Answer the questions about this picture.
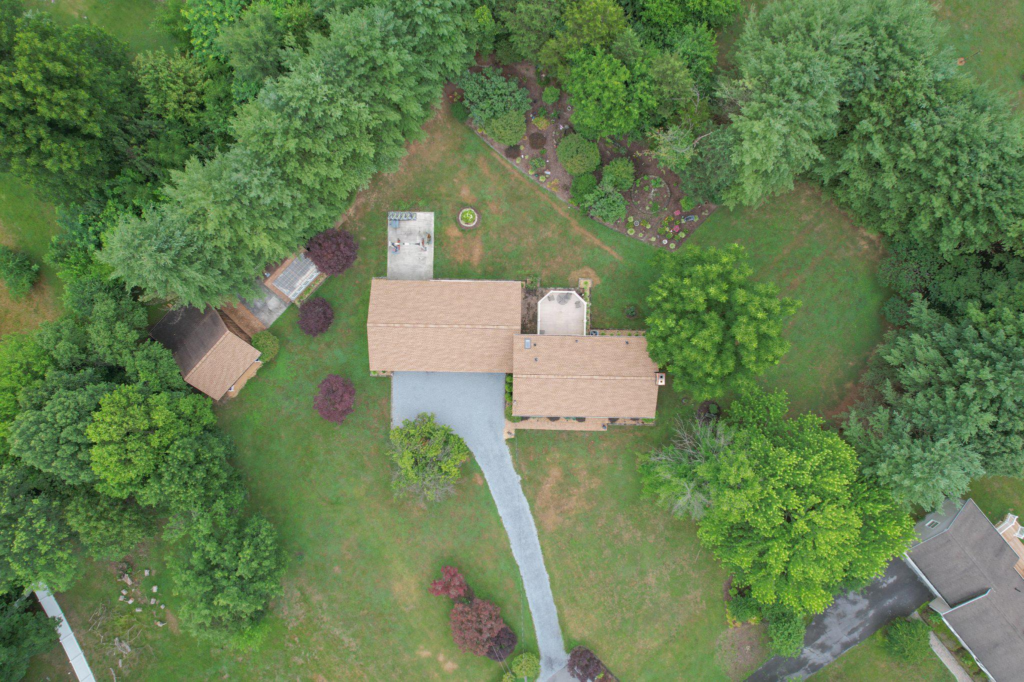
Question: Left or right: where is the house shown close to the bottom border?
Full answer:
The house shown close to the bottom border sits on the right side.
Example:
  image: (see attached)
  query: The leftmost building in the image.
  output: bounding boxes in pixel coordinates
[151,283,263,401]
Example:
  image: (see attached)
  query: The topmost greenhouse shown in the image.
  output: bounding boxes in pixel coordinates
[272,253,325,297]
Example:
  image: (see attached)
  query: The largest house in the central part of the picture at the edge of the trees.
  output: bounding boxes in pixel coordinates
[367,278,667,419]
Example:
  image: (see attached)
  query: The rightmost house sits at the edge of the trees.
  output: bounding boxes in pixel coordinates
[901,498,1024,682]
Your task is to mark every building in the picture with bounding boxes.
[272,253,325,297]
[151,283,263,401]
[367,278,667,419]
[901,498,1024,682]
